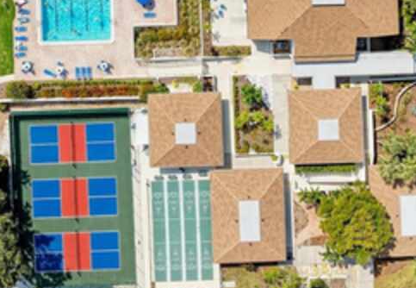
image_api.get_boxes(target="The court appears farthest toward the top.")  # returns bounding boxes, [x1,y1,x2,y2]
[30,121,116,167]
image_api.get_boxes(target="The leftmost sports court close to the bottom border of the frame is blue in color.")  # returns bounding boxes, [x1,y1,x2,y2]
[34,230,121,276]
